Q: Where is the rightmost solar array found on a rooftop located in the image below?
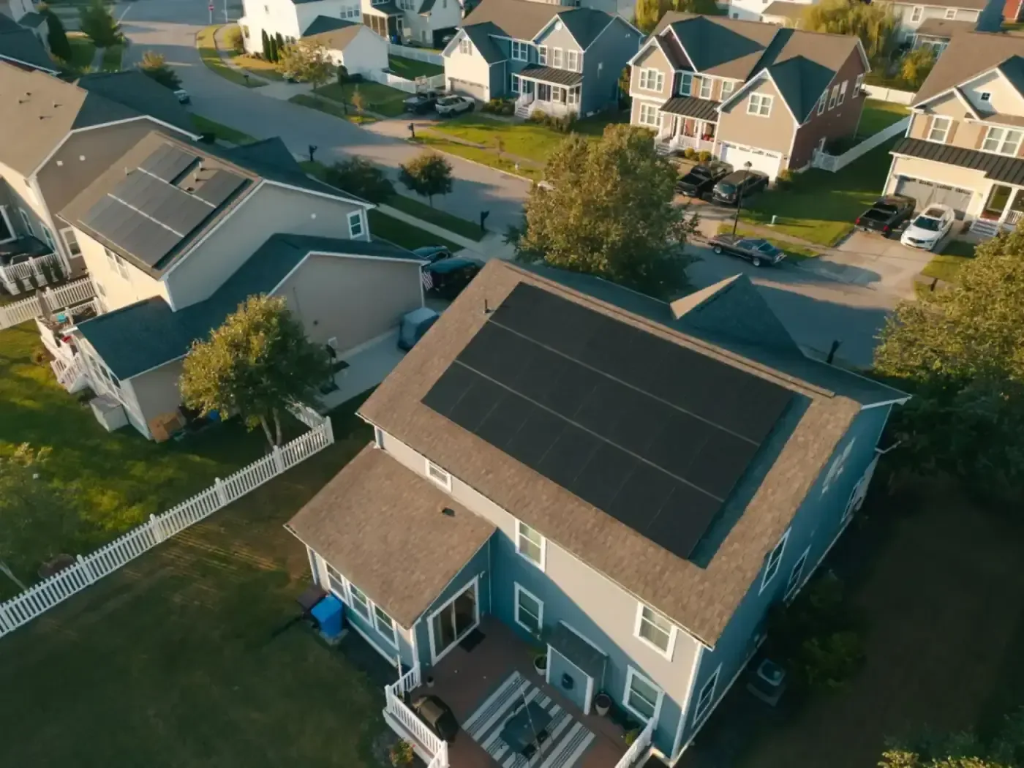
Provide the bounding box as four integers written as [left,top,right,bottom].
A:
[420,283,793,558]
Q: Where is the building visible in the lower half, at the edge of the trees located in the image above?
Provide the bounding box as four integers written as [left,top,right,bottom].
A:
[282,262,906,764]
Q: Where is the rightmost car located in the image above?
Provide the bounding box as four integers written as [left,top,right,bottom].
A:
[903,213,952,248]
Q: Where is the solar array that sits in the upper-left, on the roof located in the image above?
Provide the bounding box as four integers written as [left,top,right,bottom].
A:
[77,142,245,264]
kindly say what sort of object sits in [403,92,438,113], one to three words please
car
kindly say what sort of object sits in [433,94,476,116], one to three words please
car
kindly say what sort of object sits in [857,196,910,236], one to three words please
truck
